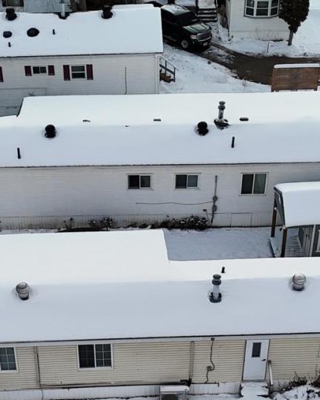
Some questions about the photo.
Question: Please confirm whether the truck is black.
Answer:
Yes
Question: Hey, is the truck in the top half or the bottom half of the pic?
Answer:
top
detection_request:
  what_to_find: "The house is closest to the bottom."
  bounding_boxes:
[0,232,320,400]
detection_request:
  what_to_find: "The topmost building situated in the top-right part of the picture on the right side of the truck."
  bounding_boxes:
[222,0,295,37]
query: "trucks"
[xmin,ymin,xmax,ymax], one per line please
[139,0,210,43]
